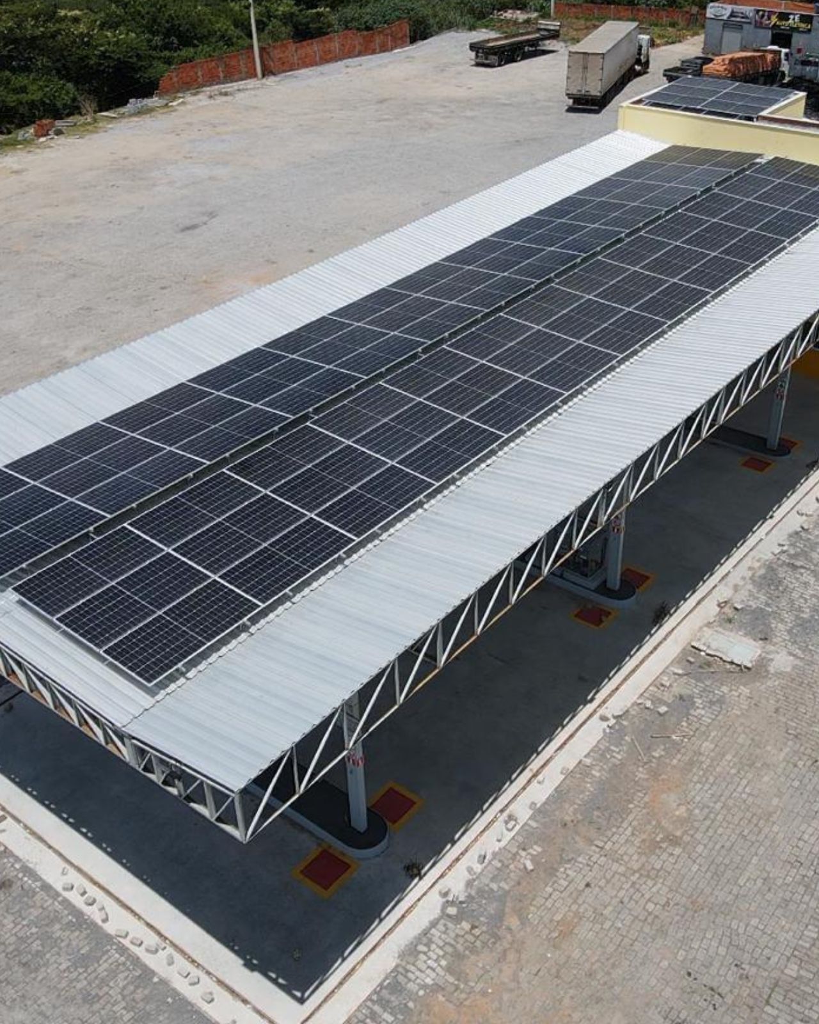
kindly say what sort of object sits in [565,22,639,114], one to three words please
trailer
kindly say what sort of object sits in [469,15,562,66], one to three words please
trailer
